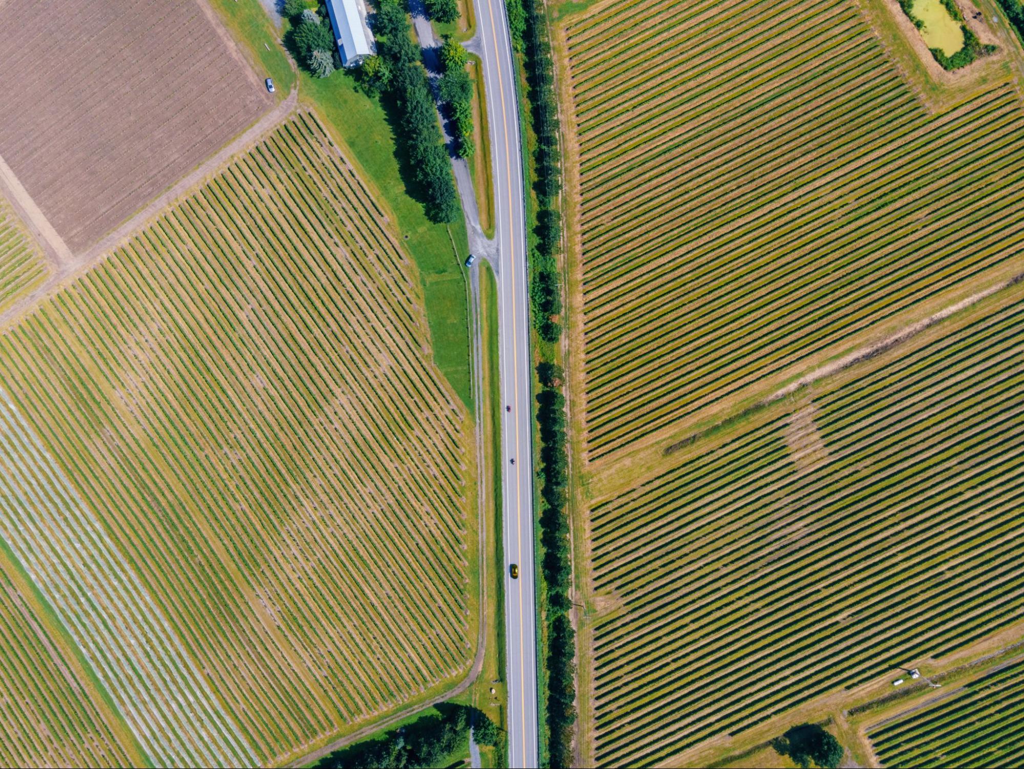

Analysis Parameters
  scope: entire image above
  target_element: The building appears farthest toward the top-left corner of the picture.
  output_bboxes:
[327,0,369,67]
